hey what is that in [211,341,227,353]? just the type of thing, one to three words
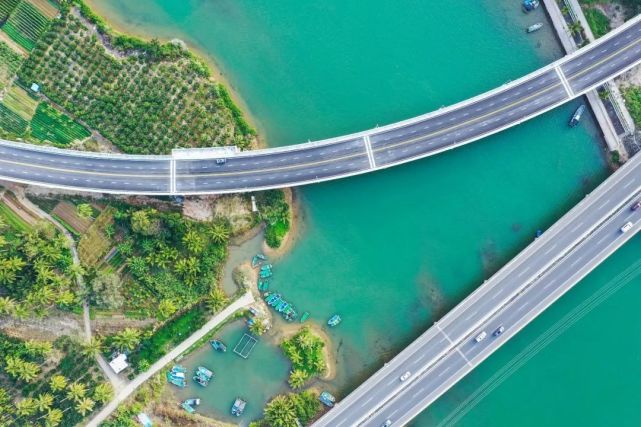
boat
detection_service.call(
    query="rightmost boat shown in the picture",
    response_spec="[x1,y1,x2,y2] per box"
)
[568,105,585,128]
